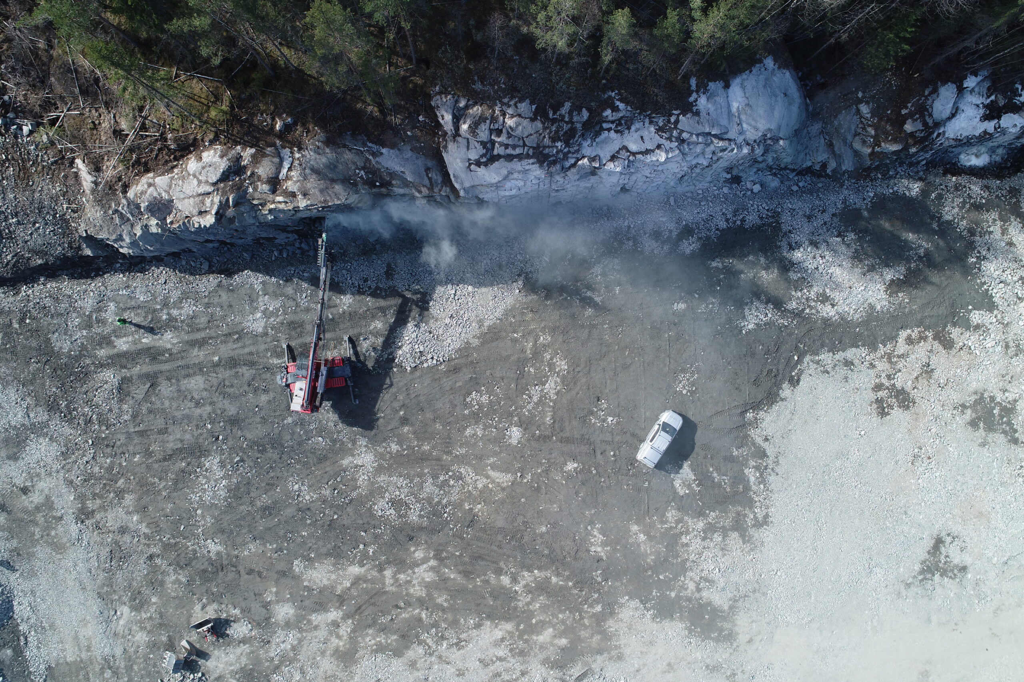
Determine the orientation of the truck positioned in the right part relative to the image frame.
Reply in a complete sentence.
In this picture, the truck positioned in the right part lies at an angle.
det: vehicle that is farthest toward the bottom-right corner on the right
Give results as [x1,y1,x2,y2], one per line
[635,411,684,470]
